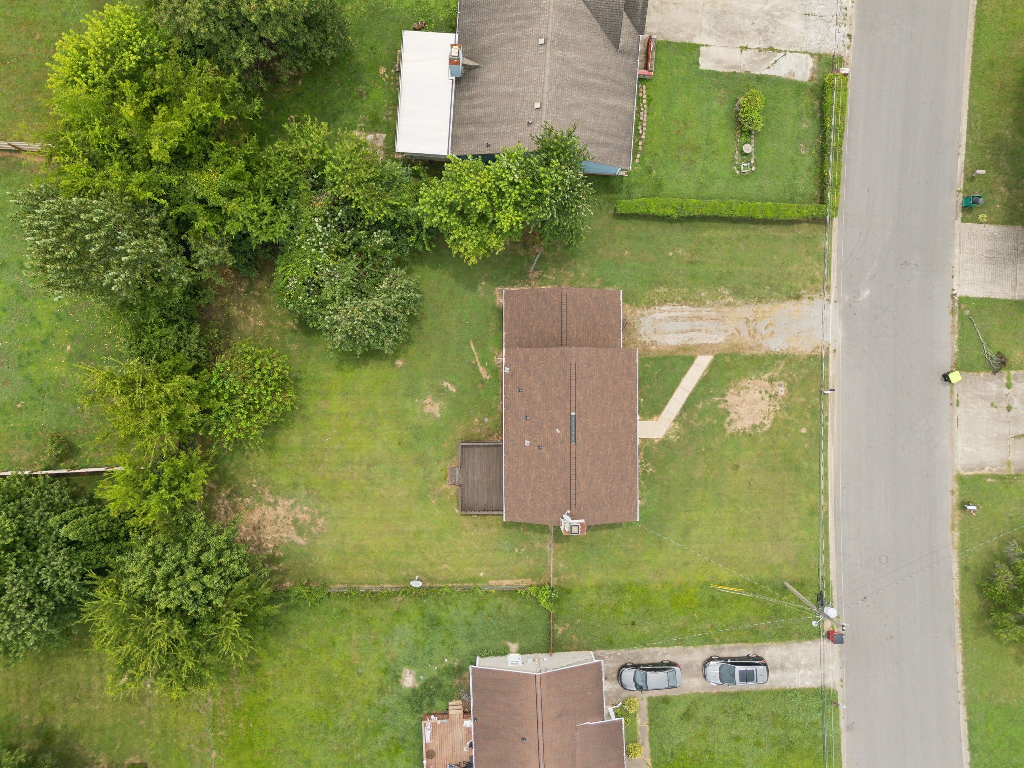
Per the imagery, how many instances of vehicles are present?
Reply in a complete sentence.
The count of vehicles comes to 2.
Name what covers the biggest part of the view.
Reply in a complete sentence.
What you mostly see from above here is grass.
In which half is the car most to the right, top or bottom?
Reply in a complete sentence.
It is in the bottom half that the car most to the right appears.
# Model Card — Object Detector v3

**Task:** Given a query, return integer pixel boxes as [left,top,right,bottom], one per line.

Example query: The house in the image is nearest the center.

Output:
[501,288,641,536]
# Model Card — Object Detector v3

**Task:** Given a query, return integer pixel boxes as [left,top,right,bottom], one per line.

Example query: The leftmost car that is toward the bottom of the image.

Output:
[618,659,683,694]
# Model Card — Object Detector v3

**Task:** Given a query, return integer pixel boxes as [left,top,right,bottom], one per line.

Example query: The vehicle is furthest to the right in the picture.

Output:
[702,654,770,691]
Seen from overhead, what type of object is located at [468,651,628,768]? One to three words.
house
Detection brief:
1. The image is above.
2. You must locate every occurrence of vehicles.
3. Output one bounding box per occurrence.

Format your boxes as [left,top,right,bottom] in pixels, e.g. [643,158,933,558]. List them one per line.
[702,654,770,691]
[618,659,683,694]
